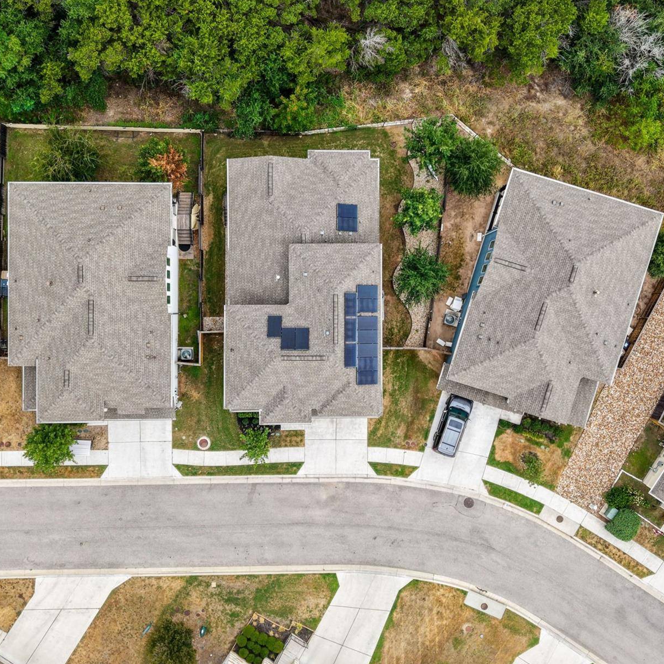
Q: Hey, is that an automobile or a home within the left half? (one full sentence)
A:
The feature located within the left half is a home.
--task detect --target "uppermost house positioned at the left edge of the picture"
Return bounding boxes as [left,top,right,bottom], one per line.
[7,176,182,425]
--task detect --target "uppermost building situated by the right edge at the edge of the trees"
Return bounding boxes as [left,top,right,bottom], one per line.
[436,168,663,428]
